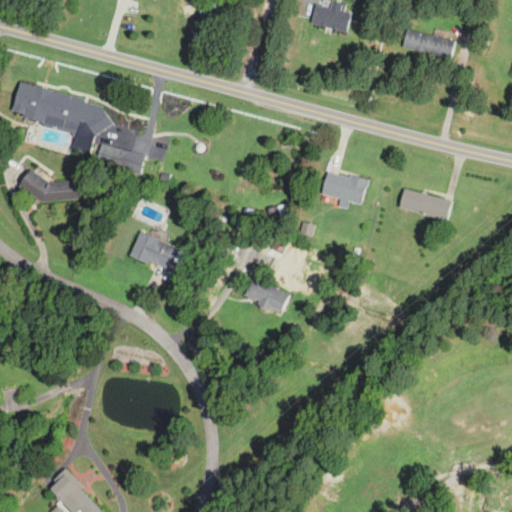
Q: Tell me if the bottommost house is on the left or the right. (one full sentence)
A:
The bottommost house sits on the left side.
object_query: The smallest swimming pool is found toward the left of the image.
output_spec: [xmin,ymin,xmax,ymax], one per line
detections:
[142,206,164,222]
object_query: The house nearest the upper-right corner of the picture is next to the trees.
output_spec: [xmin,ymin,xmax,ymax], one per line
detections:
[404,30,456,57]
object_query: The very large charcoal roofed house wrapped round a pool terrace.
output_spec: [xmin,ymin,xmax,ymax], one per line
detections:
[12,82,114,154]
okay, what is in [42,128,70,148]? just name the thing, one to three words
swimming pool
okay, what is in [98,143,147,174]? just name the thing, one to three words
building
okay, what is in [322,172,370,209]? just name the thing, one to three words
house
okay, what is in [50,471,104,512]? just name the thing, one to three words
house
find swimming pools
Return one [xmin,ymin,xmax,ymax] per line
[142,206,164,222]
[42,128,70,148]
